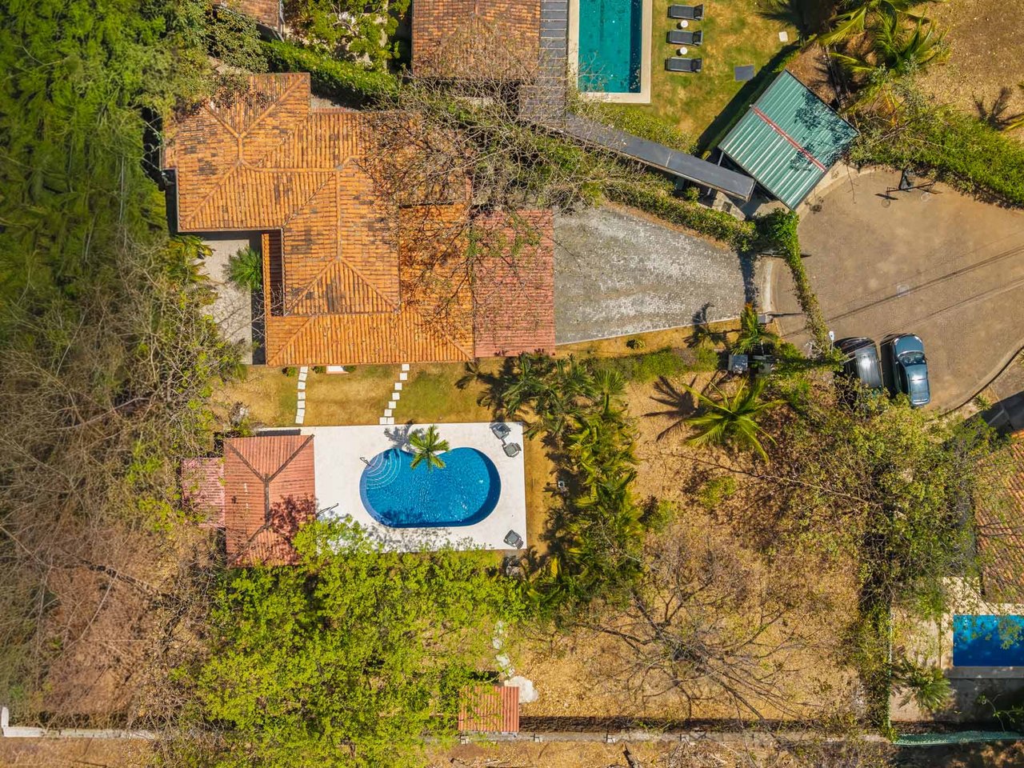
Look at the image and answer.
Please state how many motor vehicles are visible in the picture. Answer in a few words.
two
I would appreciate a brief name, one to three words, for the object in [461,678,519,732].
shed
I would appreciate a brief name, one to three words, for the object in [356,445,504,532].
swimming pool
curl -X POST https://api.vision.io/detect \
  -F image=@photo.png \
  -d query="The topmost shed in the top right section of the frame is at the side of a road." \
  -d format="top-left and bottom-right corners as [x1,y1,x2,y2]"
[714,69,859,211]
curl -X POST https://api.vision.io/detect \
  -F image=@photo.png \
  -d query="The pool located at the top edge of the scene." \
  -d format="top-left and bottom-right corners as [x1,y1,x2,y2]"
[569,0,651,103]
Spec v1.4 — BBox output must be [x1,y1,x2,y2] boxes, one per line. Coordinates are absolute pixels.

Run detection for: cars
[835,328,884,405]
[888,334,932,407]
